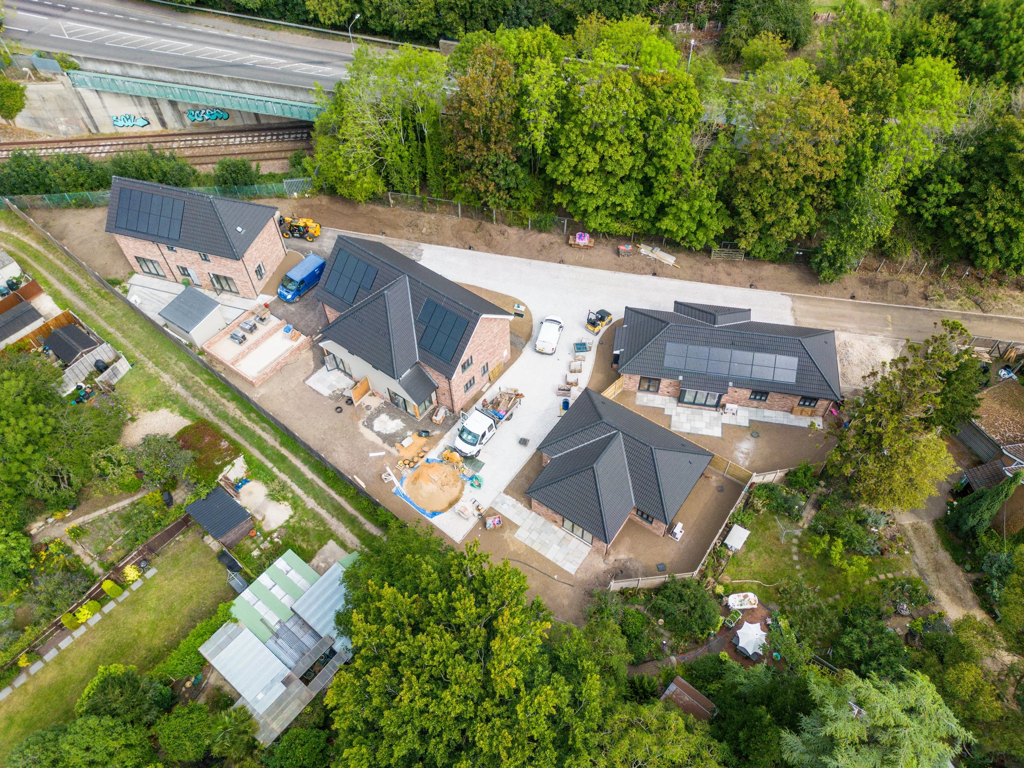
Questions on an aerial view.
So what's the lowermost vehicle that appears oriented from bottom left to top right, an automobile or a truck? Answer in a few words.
truck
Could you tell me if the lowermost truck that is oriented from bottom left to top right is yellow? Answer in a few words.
No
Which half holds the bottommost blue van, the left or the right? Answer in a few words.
left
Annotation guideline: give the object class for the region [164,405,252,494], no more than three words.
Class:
shed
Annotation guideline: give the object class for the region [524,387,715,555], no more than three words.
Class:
house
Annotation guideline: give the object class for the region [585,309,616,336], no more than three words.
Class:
work vehicle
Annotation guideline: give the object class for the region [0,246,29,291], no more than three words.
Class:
building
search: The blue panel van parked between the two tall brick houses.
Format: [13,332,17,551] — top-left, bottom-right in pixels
[278,251,326,297]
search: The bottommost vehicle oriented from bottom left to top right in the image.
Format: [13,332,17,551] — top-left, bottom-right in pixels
[448,375,523,457]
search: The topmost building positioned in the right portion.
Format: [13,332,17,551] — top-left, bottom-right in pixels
[612,299,844,417]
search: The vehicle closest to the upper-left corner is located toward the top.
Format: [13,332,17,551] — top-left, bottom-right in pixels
[279,214,322,241]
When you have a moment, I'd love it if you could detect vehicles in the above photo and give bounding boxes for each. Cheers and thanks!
[448,375,523,457]
[585,309,616,336]
[534,317,562,357]
[279,214,322,241]
[278,251,326,297]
